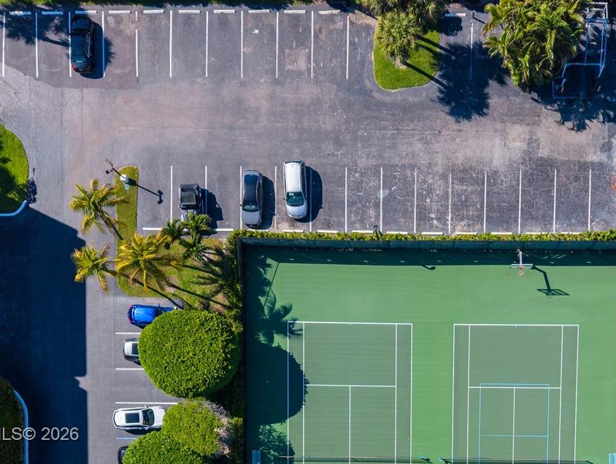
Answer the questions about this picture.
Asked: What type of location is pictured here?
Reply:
sports ground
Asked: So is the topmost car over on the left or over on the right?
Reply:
left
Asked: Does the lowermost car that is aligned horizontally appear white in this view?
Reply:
Yes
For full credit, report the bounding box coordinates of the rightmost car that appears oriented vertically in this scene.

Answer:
[281,160,308,222]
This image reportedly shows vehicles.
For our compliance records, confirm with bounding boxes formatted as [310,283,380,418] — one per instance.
[121,341,138,362]
[116,446,127,464]
[178,175,206,224]
[127,302,175,327]
[238,170,265,230]
[66,17,97,77]
[281,160,308,222]
[114,406,164,431]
